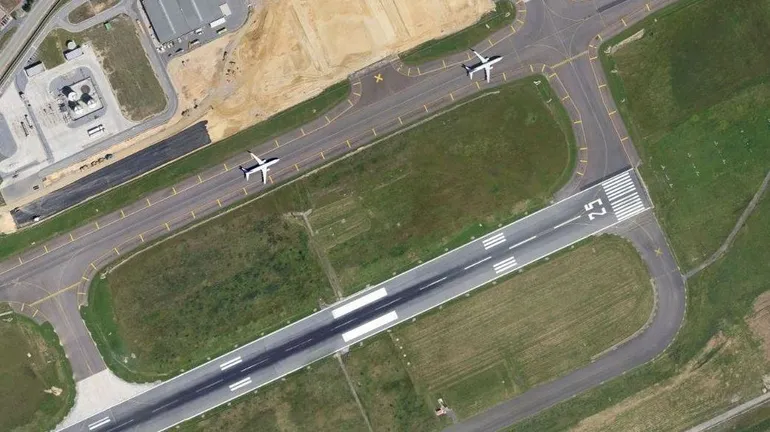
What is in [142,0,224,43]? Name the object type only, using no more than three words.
building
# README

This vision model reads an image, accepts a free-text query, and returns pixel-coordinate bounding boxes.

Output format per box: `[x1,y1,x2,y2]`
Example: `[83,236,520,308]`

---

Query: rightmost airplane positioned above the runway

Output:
[466,50,504,82]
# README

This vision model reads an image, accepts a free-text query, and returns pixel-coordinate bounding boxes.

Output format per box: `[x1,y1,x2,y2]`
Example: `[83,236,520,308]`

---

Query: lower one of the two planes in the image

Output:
[241,153,279,184]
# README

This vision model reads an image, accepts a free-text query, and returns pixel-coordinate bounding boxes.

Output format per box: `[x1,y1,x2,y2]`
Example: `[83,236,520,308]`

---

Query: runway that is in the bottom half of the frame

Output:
[53,166,653,432]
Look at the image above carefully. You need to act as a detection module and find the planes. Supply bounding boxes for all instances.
[466,50,504,82]
[241,153,279,184]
